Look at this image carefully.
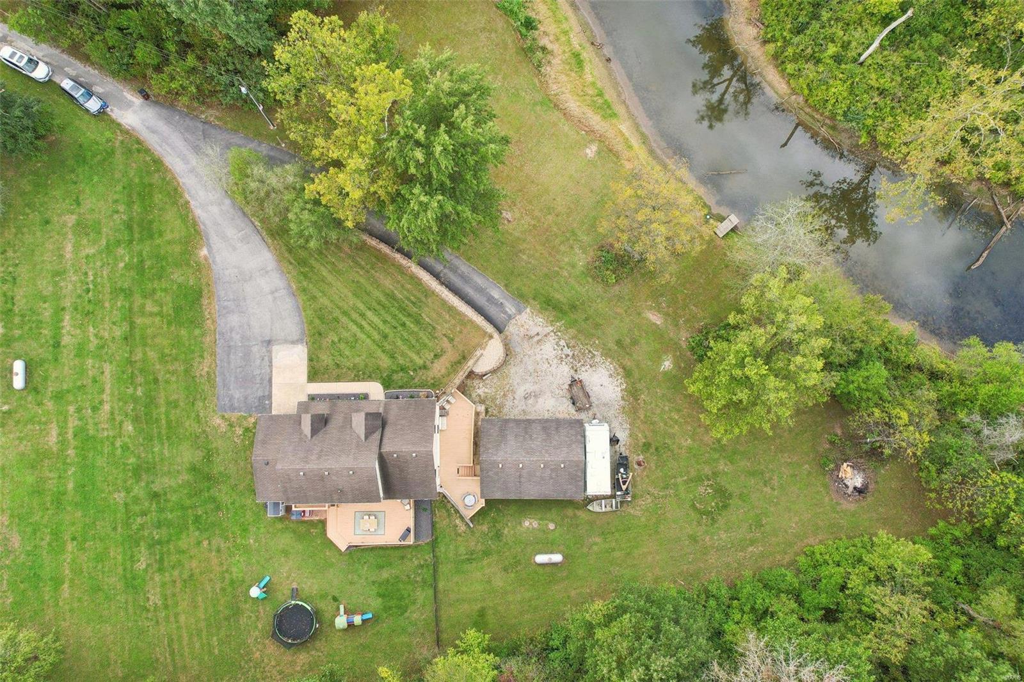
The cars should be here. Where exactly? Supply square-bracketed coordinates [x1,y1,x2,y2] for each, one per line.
[54,73,113,117]
[0,45,57,88]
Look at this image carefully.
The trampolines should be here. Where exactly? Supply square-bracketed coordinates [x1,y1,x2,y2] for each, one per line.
[266,584,320,652]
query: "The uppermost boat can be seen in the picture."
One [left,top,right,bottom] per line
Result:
[616,453,632,500]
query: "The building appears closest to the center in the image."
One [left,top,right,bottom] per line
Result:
[479,418,586,500]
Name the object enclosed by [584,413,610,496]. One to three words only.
trailer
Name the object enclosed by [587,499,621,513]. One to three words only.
boat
